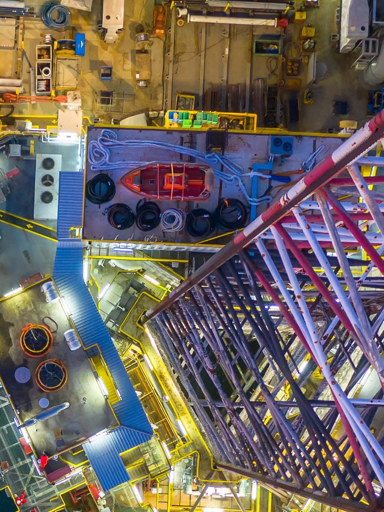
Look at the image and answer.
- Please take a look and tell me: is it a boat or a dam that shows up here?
boat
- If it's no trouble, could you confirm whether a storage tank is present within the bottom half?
No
